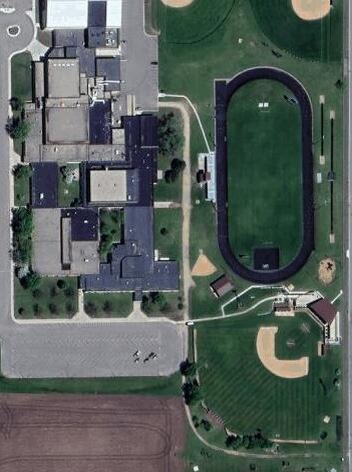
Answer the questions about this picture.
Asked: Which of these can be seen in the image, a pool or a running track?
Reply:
running track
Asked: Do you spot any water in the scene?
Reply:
No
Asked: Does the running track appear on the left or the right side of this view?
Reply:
right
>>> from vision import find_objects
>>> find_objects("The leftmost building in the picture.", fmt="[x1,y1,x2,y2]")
[24,0,179,302]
